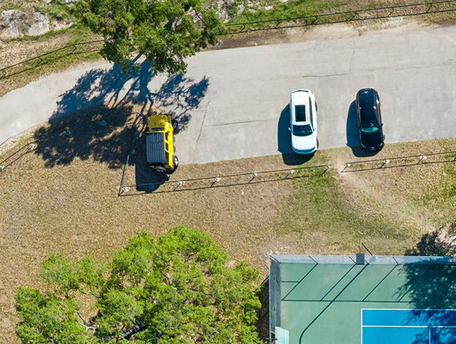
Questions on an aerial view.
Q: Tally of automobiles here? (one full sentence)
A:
The number of automobiles here is 3.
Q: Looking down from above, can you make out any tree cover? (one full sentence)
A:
Yes, tree cover shows up in the scene.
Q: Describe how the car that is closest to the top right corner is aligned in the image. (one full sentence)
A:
In this picture, the car that is closest to the top right corner lies vertically.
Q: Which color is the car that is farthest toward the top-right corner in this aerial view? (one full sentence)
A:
From above, the car that is farthest toward the top-right corner appears black.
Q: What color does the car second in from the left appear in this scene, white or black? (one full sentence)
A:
The color of the car second in from the left is white.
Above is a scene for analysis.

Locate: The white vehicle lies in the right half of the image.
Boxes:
[291,90,320,153]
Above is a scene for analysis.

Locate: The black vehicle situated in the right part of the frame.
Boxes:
[359,89,386,151]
